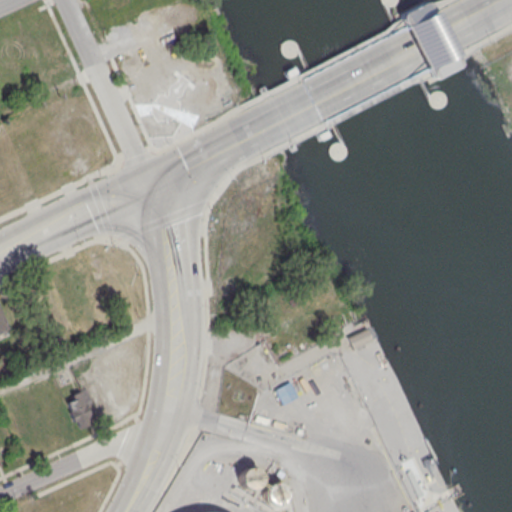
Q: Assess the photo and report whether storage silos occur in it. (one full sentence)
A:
Yes, the photo shows a storage silo.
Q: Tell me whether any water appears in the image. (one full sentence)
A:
Yes, some water is visible.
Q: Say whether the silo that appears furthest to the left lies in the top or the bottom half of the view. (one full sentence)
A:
The silo that appears furthest to the left sits in the bottom half of the picture.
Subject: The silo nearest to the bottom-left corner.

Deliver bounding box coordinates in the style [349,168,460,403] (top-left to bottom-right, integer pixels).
[242,466,268,490]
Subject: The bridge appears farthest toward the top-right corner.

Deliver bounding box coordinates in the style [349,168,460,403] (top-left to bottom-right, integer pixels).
[243,0,468,158]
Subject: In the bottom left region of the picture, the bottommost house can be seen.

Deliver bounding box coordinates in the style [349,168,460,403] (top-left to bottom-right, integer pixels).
[65,388,96,426]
